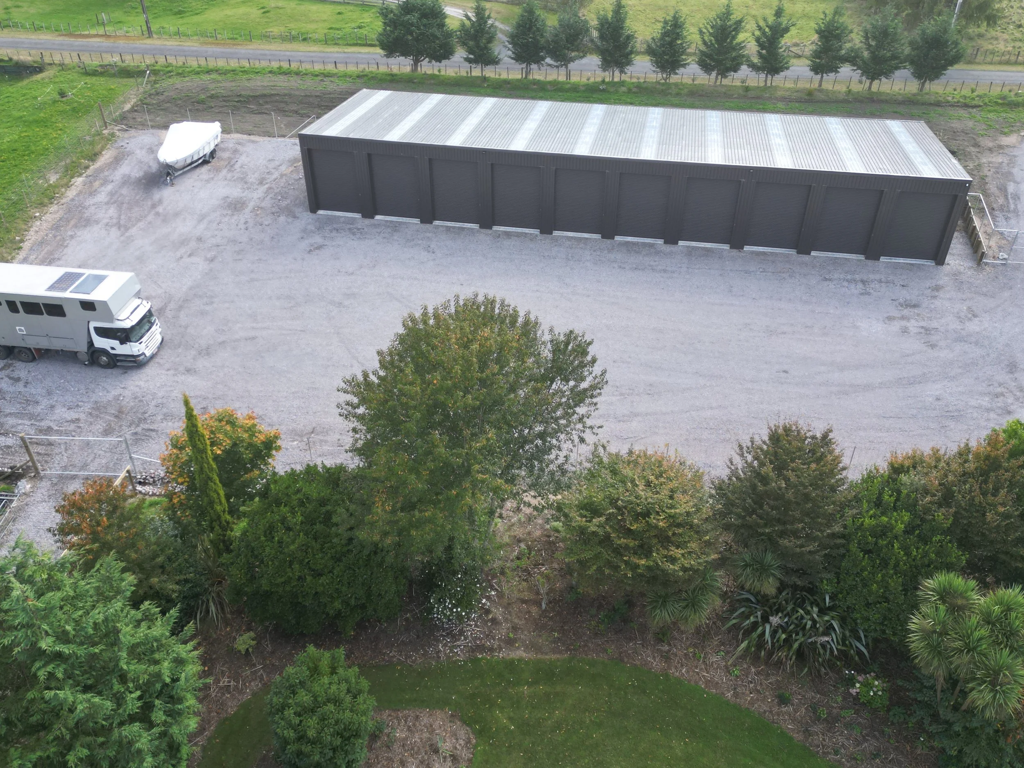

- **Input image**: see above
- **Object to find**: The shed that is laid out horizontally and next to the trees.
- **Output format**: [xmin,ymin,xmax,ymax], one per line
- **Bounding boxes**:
[296,87,974,266]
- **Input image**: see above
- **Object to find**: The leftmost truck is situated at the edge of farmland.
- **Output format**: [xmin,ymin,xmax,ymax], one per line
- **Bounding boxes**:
[0,263,167,368]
